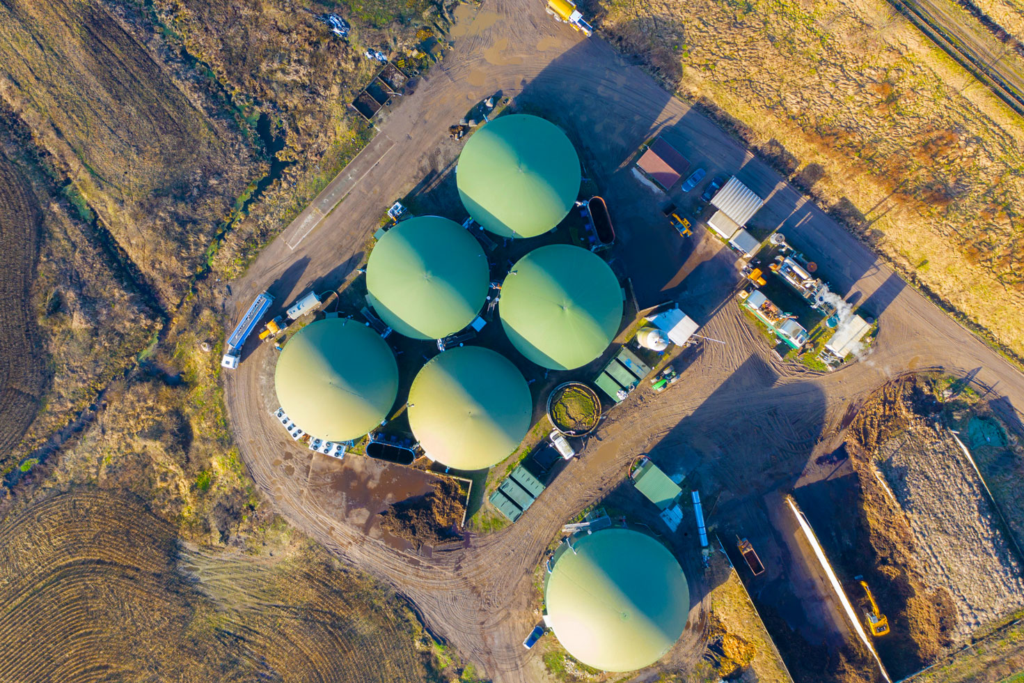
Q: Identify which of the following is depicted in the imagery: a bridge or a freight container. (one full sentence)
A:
I can see a freight container in this picture.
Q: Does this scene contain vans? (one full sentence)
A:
Yes, I can see a van in this picture.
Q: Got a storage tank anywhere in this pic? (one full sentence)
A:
Yes, a storage tank is visible in the scene.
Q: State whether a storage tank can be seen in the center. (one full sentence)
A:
Yes, a storage tank is visible in the center.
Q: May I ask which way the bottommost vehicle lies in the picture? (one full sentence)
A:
From this overhead view, the bottommost vehicle appears to run diagonally.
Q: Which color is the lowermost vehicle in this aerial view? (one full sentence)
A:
The color of the lowermost vehicle is blue.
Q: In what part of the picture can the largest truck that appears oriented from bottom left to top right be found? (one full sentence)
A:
Look in the left portion of the view to spot the largest truck that appears oriented from bottom left to top right.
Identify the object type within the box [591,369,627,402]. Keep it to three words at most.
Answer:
shipping container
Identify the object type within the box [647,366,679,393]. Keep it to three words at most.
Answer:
work vehicle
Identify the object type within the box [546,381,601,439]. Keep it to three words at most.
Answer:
storage tank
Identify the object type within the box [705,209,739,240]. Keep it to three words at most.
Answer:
building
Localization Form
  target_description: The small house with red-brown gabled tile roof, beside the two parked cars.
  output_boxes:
[636,137,691,192]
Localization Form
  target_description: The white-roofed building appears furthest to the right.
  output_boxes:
[822,314,870,359]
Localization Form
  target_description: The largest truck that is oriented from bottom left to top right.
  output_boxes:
[218,292,279,364]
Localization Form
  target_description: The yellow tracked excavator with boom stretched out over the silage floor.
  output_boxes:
[855,578,890,637]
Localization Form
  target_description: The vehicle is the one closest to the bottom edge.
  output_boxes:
[523,623,544,648]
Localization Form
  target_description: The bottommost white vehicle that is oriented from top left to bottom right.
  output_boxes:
[547,429,576,461]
